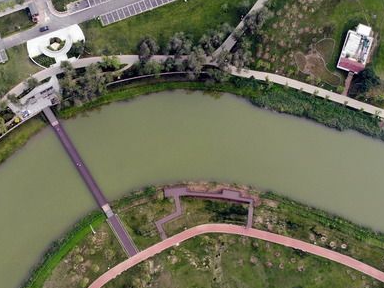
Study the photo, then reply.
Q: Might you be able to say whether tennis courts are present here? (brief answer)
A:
No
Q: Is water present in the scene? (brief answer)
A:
Yes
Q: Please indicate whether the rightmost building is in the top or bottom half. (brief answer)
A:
top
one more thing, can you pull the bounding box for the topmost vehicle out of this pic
[26,1,40,22]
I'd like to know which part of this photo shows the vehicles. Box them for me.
[39,25,49,31]
[26,1,40,22]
